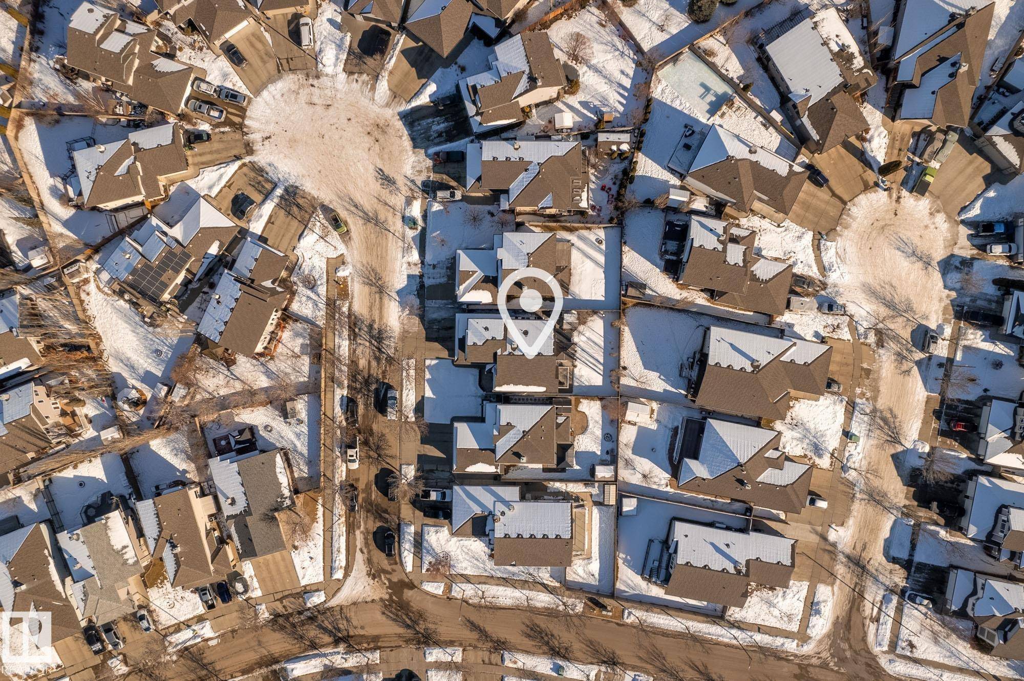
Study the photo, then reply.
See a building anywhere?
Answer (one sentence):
Yes, there's a building here.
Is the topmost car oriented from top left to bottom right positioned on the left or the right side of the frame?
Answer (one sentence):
The topmost car oriented from top left to bottom right sits on the left side.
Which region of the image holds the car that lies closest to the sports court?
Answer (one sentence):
The car that lies closest to the sports court appears toward the top right of the photo.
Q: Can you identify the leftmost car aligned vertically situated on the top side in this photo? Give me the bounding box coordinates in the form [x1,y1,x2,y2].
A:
[296,15,314,49]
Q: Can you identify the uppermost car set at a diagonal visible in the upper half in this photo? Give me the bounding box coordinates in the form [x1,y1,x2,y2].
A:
[225,41,249,68]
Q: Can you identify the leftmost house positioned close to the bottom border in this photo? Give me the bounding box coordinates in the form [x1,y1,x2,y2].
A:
[0,521,89,652]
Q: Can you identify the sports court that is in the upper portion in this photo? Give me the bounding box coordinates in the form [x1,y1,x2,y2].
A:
[657,49,734,122]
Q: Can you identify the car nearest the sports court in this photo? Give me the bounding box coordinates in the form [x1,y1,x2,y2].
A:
[807,163,831,187]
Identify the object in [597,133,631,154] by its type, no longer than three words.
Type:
shed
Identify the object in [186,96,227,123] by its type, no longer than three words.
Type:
truck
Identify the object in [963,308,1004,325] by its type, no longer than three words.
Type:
vehicle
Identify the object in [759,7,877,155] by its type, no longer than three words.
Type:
house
